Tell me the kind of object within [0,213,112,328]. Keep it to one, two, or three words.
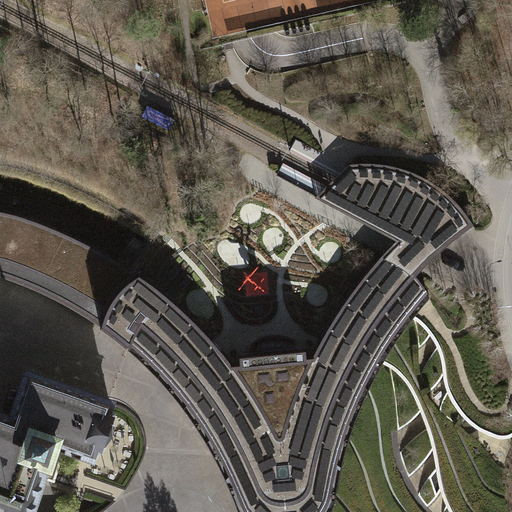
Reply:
building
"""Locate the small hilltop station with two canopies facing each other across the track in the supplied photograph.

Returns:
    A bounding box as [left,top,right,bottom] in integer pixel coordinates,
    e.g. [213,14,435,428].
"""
[278,140,338,196]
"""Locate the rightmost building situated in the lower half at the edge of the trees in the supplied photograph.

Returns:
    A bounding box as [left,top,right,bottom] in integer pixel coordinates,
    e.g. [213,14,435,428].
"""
[101,164,472,512]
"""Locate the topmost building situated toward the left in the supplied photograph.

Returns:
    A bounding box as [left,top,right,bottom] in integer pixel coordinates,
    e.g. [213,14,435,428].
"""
[142,107,174,130]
